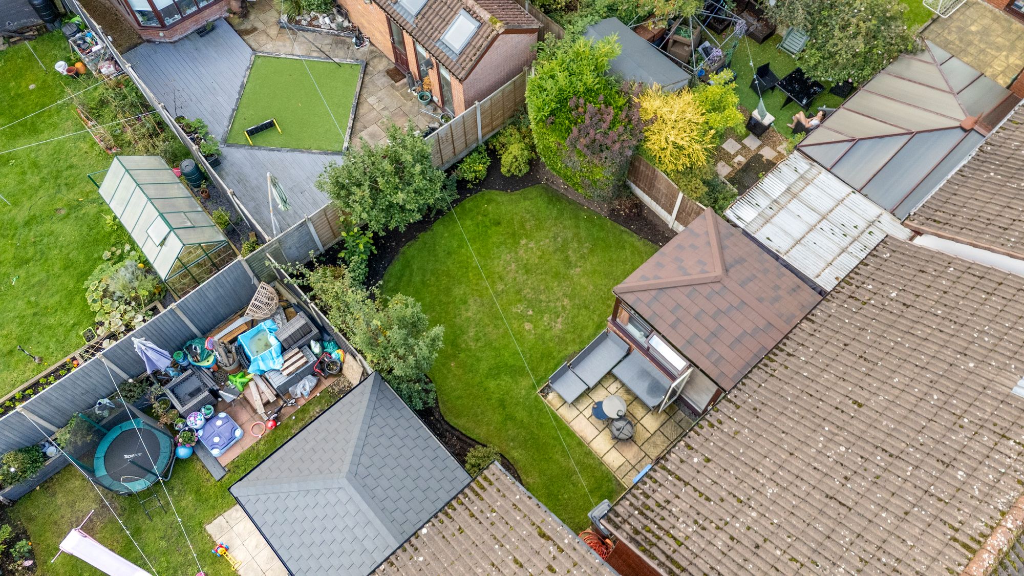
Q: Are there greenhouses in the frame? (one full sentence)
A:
Yes, the picture does show a greenhouse.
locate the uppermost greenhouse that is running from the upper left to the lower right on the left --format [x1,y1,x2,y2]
[87,154,248,300]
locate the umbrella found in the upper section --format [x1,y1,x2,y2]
[262,170,301,242]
